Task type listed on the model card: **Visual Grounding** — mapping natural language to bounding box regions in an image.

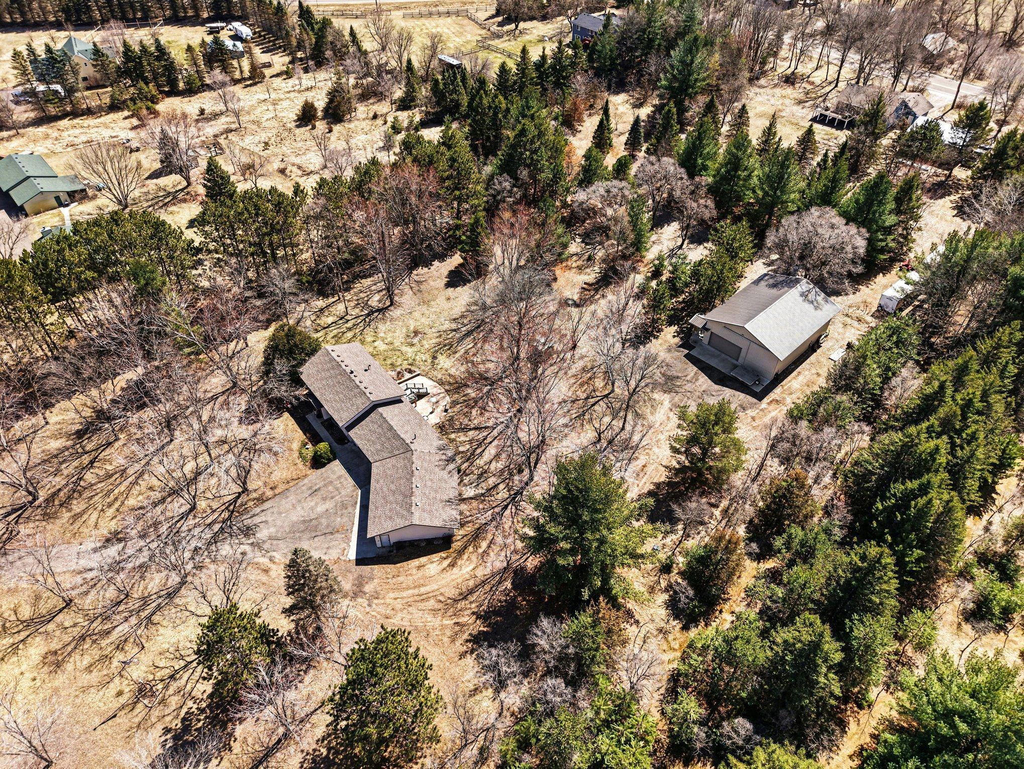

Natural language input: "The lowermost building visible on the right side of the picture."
[687,273,842,381]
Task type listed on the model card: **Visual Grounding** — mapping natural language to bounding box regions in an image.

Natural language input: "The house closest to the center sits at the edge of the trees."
[299,342,460,546]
